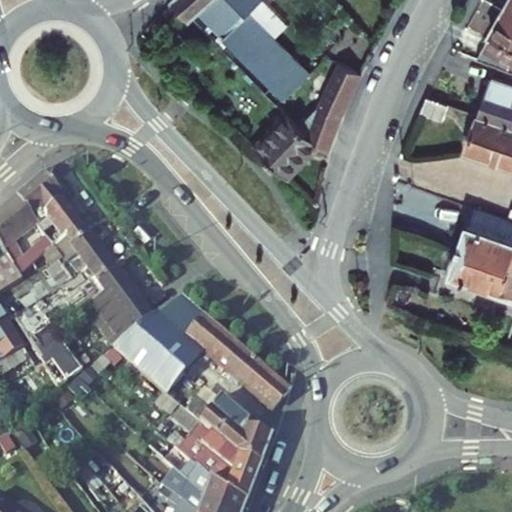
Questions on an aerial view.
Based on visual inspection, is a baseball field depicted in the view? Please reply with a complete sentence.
No, no baseball field is visible in the view.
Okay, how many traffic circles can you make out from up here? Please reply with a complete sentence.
My tally gives 2 traffic circles in this view.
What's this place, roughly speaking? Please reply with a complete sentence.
This looks like a residential area.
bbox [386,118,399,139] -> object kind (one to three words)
vehicle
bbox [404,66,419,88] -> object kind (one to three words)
car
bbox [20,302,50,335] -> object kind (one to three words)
shed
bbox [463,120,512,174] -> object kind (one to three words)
house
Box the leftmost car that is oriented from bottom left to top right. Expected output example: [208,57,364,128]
[134,190,156,208]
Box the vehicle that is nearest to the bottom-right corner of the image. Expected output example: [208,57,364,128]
[376,457,398,474]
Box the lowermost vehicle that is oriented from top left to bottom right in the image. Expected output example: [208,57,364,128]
[133,226,152,246]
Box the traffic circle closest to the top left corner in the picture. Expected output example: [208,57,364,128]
[6,20,104,118]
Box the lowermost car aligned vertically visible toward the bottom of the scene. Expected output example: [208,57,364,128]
[266,471,278,492]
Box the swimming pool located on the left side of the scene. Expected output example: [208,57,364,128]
[58,428,74,443]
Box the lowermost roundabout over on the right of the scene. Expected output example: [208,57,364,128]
[328,371,414,457]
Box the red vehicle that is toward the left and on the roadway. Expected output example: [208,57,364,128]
[106,134,127,148]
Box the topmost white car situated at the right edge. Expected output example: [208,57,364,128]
[468,66,489,78]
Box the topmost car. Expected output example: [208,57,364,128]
[392,13,410,38]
